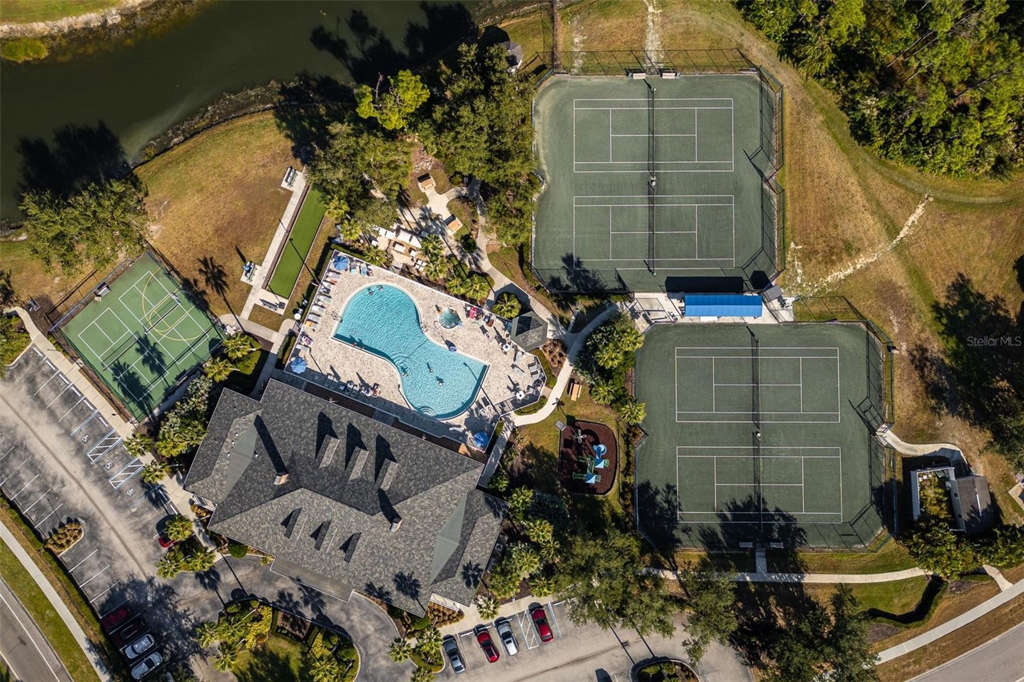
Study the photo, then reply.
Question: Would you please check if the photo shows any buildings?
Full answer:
Yes, the photo shows a building.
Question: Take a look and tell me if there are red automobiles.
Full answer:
Yes, the photo shows a red automobile.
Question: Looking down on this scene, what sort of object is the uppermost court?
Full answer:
Specifically, the uppermost court is a tennis court.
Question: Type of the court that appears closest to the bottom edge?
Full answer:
I'd identify the court that appears closest to the bottom edge as a tennis court.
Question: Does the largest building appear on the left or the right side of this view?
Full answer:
The largest building appears in the left half of the scene.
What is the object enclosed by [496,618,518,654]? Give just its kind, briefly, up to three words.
car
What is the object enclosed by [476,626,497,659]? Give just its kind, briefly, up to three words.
car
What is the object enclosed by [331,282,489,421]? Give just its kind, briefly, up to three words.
swimming pool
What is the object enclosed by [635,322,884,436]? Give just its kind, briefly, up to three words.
tennis court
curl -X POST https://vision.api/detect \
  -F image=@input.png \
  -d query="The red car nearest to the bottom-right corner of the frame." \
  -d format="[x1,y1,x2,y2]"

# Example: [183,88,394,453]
[531,605,552,641]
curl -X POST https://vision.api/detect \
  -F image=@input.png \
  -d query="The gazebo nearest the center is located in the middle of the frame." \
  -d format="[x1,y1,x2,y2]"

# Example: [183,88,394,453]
[510,311,548,351]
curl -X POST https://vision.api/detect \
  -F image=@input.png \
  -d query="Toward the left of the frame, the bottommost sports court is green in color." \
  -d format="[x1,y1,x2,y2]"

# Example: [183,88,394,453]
[61,251,222,422]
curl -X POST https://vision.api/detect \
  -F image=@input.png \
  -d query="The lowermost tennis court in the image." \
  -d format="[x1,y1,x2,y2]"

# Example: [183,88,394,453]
[636,435,888,550]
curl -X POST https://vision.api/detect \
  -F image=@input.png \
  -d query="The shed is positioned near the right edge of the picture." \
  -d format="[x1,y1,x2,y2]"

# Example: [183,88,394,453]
[946,475,992,534]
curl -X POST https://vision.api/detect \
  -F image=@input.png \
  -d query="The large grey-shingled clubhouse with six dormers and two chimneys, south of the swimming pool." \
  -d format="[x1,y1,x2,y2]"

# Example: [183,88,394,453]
[182,378,510,618]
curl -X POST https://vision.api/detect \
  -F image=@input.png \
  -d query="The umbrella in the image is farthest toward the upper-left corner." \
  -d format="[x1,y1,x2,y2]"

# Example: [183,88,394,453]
[332,254,350,271]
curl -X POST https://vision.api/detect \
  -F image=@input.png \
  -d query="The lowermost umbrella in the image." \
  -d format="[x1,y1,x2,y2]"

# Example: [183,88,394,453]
[472,430,490,448]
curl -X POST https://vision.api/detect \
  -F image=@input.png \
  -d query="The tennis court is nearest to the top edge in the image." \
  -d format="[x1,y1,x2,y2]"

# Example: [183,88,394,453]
[533,72,776,184]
